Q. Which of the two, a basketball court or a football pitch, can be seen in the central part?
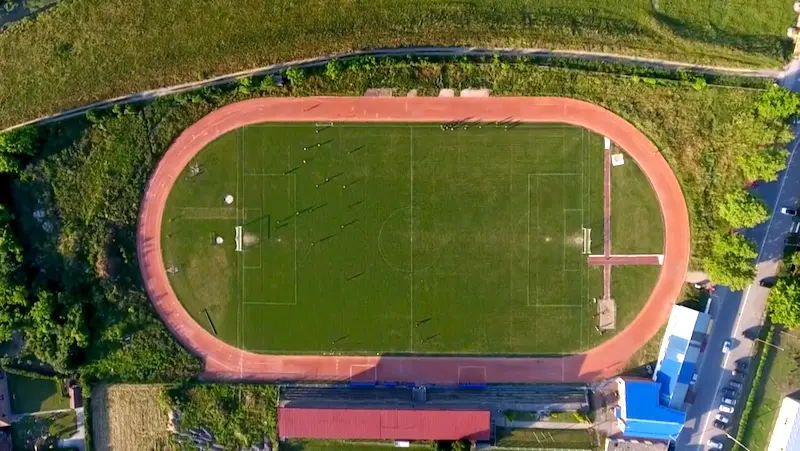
football pitch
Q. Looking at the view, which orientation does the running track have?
horizontally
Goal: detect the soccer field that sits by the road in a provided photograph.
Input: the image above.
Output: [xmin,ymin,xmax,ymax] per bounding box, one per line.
[238,126,590,351]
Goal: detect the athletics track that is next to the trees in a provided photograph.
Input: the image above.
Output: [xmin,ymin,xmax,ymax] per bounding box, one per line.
[138,98,692,381]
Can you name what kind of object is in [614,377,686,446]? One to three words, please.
building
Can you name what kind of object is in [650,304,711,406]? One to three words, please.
building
